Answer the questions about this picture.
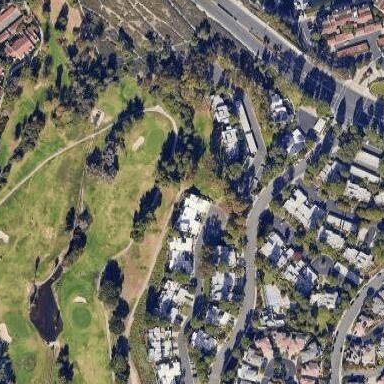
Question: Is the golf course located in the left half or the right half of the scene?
left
